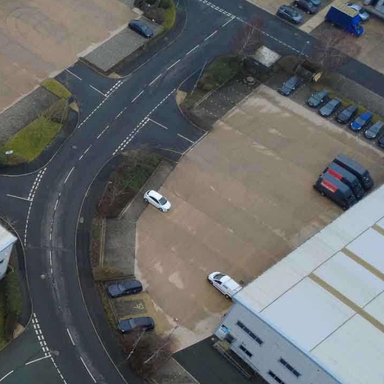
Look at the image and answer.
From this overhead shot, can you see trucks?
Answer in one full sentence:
Yes, the photo shows a truck.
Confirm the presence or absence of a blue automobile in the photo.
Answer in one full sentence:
Yes, a blue automobile appears in the view.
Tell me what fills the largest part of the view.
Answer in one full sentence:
The bulk of the photo consists of paved ground.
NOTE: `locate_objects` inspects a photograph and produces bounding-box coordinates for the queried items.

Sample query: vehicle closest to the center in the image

[144,191,171,211]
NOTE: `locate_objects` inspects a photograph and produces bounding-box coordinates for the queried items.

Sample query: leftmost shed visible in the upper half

[247,46,282,77]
